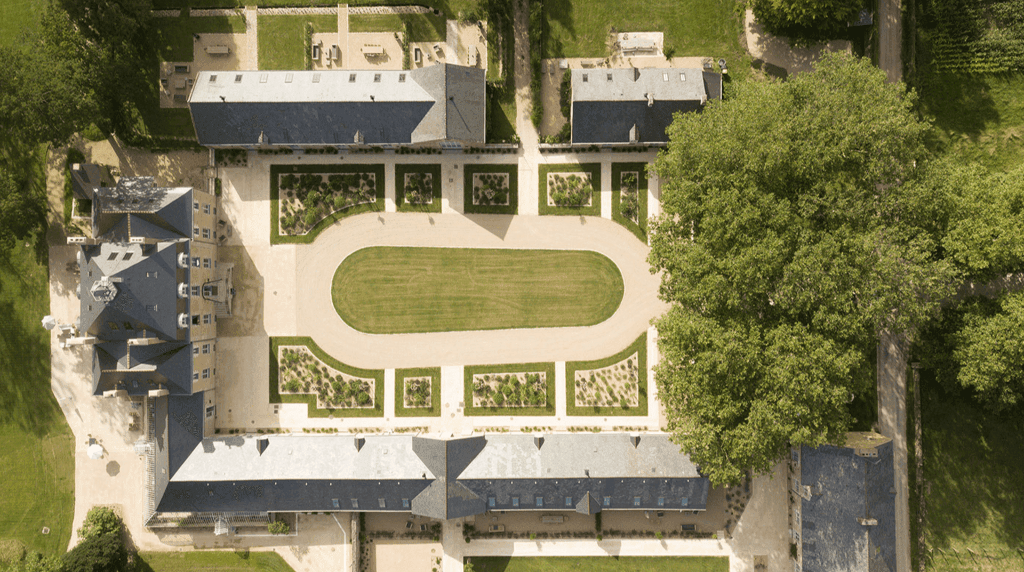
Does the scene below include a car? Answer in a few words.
No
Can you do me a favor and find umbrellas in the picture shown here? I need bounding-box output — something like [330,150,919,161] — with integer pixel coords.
[41,314,58,330]
[88,444,104,459]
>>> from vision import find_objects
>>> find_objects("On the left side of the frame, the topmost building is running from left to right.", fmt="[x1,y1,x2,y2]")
[187,61,487,148]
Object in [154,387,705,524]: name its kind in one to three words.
building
